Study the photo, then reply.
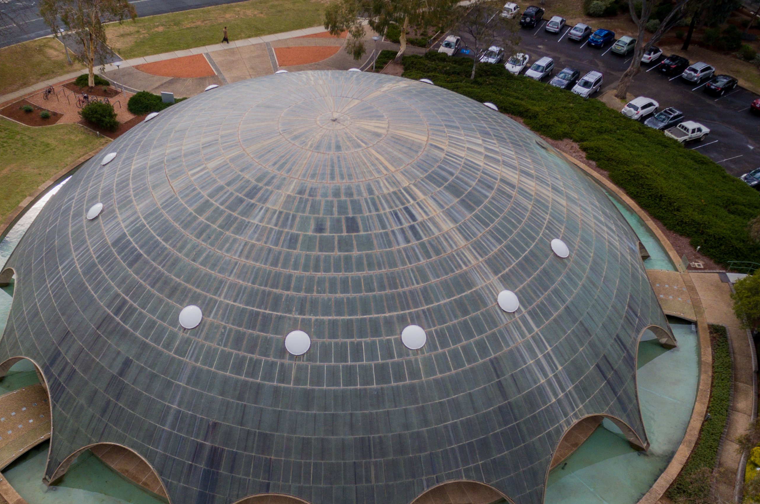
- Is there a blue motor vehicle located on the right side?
Yes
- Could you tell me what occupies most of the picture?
buildings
